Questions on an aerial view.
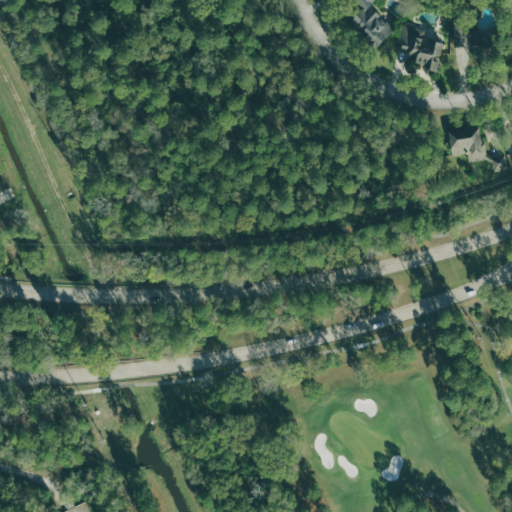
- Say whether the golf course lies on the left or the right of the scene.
right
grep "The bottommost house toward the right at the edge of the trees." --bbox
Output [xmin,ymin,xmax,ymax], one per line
[449,123,504,172]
